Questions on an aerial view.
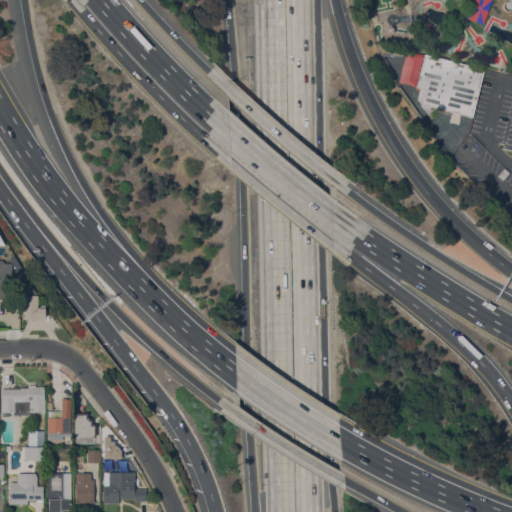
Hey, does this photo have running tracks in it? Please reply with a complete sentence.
No, no running track is visible in the scene.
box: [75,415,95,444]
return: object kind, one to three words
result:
house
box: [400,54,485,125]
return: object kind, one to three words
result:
building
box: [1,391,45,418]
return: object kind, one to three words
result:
house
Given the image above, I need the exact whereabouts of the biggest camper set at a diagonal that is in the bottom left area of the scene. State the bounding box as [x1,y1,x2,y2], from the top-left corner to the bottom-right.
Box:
[103,407,119,424]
